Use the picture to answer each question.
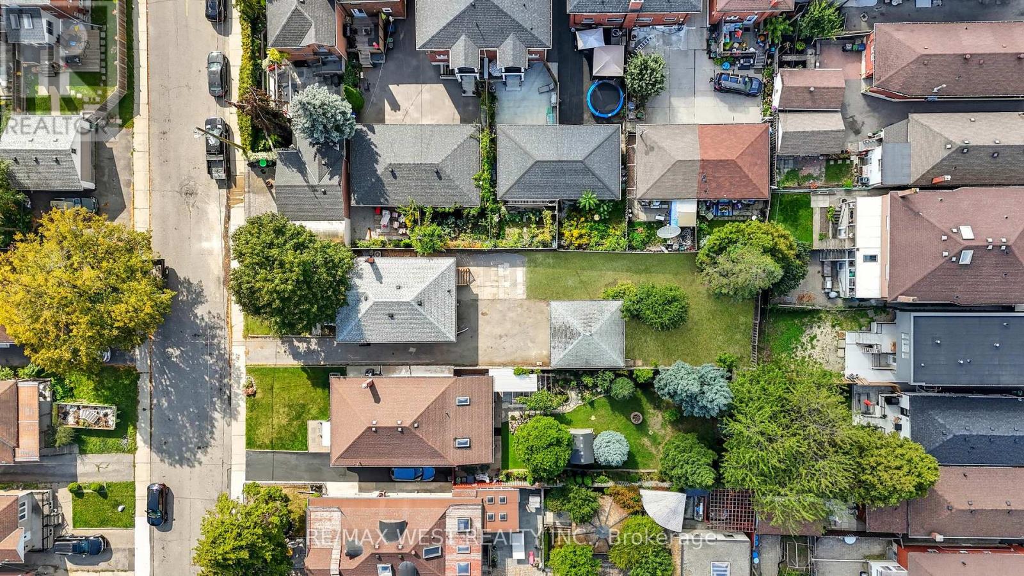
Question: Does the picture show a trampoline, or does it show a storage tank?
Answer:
trampoline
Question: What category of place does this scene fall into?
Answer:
residential area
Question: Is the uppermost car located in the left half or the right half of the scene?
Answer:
left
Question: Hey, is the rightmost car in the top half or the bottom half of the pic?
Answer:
top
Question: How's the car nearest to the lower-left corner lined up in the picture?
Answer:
horizontally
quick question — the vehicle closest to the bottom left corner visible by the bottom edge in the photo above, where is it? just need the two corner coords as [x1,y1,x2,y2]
[55,529,109,554]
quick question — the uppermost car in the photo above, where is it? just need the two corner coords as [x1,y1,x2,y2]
[202,0,225,21]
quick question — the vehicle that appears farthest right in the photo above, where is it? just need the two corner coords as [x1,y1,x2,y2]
[712,74,762,99]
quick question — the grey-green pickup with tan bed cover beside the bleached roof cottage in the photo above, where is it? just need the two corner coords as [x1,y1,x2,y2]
[45,193,99,215]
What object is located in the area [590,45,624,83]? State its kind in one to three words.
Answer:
gazebo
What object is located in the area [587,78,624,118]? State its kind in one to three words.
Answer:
trampoline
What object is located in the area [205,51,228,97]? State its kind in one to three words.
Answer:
car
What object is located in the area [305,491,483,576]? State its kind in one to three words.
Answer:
house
